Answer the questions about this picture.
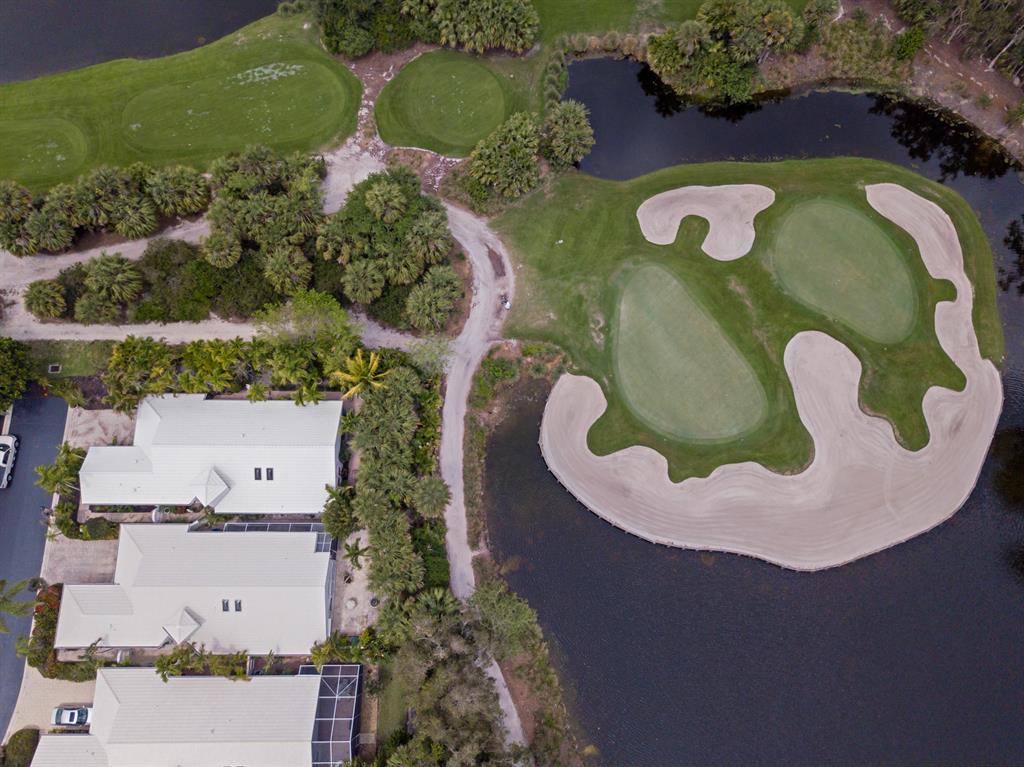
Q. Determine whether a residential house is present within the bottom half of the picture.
Yes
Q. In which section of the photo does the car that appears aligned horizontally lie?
bottom left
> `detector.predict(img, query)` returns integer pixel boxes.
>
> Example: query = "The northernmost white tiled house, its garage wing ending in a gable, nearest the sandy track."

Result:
[80,396,346,515]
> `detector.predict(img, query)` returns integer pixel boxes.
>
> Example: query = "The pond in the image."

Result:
[0,0,291,86]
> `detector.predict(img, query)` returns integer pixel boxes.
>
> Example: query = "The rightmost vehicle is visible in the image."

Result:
[49,708,93,730]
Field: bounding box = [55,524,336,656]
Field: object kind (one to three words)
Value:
house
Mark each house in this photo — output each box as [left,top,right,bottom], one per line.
[28,667,322,767]
[55,524,336,656]
[80,396,346,515]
